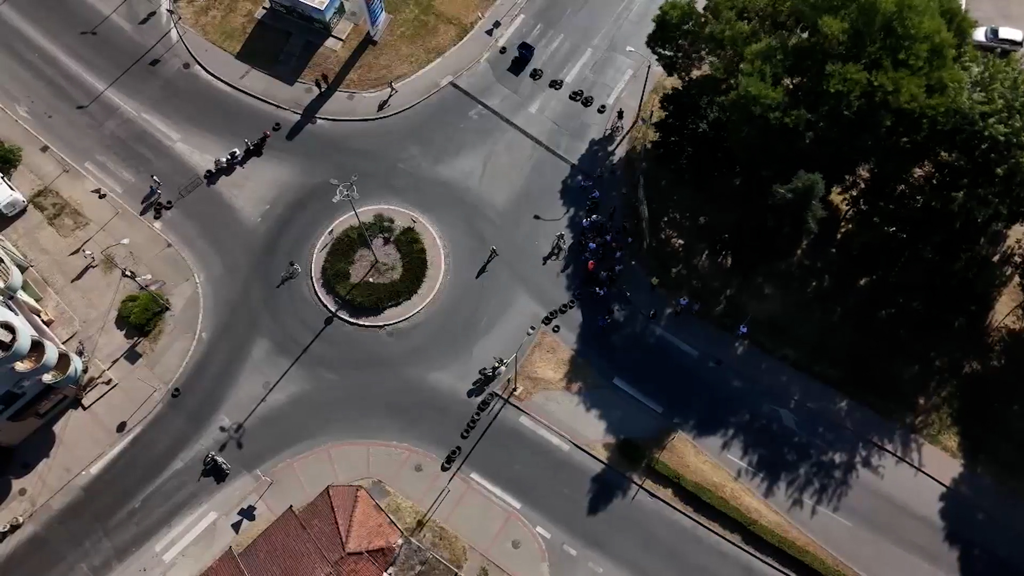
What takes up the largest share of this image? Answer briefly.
paved ground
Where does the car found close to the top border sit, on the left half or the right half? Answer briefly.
right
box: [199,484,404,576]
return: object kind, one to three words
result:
house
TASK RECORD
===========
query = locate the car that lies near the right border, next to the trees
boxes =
[979,24,1024,54]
